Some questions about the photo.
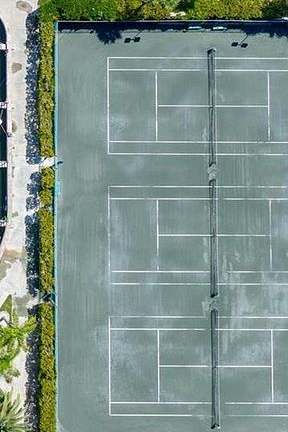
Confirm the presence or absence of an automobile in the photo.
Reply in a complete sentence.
No, there is no automobile in the image.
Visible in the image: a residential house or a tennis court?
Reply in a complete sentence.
It is a tennis court that can be seen here.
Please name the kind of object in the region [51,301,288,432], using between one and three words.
tennis court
